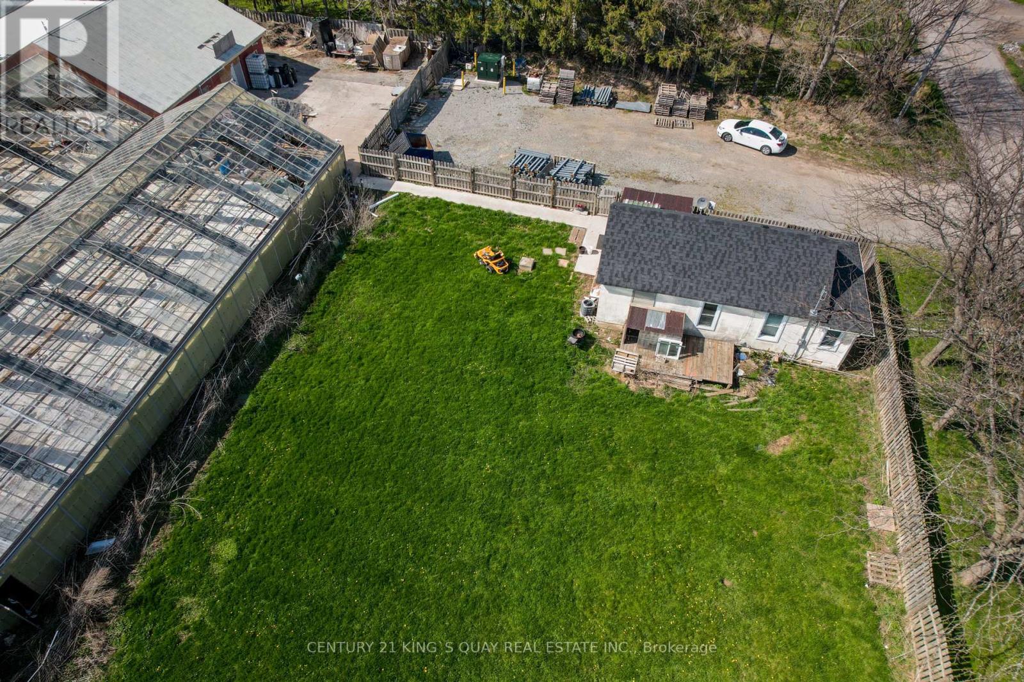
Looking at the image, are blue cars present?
No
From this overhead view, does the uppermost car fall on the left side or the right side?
right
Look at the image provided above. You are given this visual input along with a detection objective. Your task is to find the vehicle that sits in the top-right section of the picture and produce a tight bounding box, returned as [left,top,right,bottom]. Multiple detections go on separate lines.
[715,120,793,158]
